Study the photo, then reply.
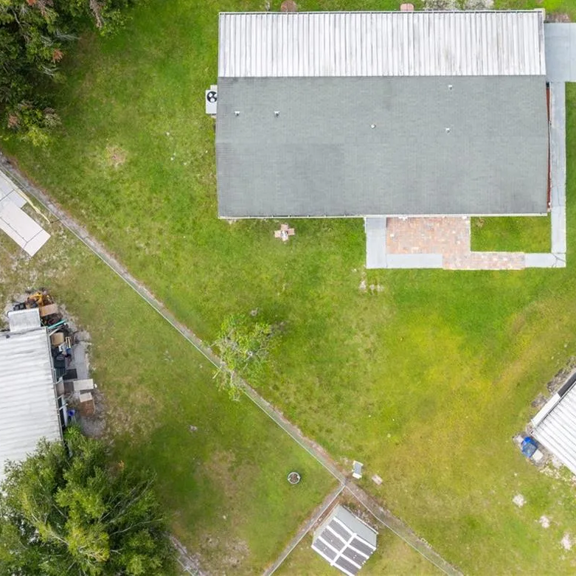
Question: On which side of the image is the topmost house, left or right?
right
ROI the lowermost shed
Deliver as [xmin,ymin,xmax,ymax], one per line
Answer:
[311,502,381,576]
